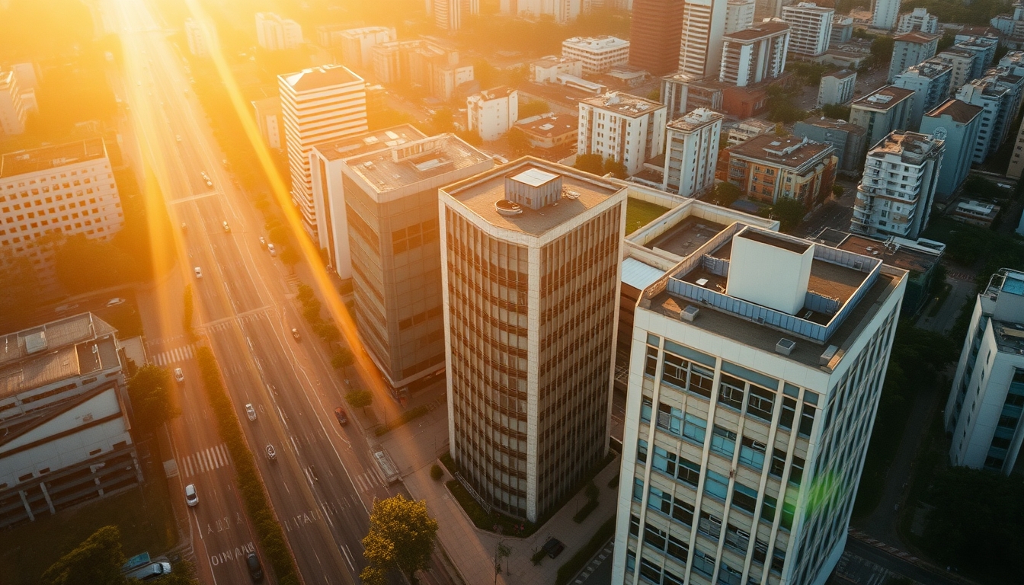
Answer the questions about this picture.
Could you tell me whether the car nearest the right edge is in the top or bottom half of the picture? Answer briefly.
bottom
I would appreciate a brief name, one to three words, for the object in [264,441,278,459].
car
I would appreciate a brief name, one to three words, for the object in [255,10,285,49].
building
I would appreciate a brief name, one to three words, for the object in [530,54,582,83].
house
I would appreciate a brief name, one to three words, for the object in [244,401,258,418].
car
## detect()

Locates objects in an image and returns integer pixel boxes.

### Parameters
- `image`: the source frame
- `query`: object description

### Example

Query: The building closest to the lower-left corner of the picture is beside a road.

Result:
[0,305,148,522]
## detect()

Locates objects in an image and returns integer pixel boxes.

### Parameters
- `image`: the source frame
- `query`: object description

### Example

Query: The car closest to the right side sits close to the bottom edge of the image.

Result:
[539,539,563,559]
